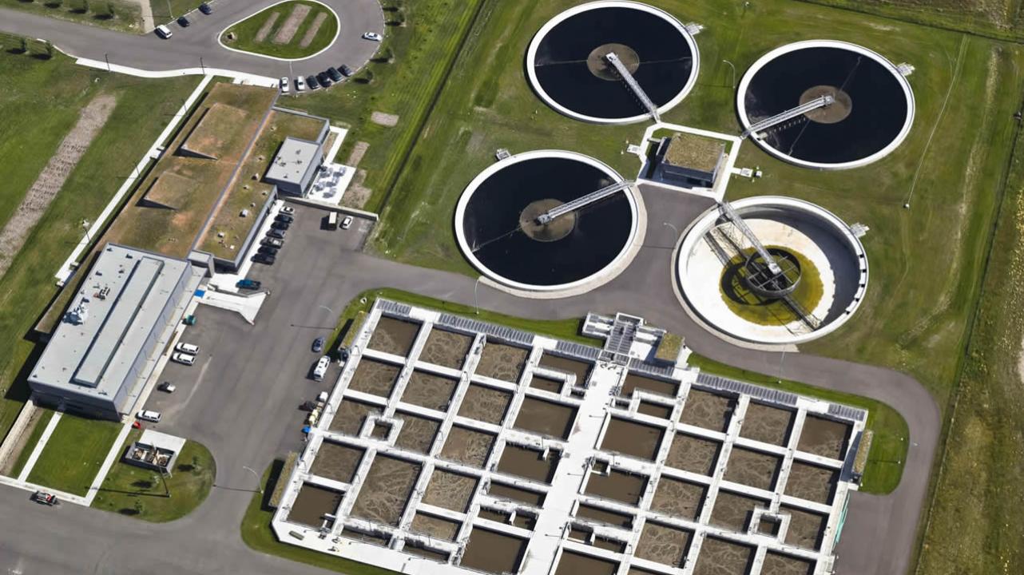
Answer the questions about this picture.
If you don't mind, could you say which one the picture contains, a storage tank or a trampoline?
storage tank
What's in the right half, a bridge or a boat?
bridge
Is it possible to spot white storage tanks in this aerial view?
Yes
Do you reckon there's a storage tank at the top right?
Yes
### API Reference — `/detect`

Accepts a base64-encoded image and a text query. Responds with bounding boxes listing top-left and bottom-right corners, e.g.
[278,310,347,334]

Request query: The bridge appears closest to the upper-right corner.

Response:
[741,97,822,137]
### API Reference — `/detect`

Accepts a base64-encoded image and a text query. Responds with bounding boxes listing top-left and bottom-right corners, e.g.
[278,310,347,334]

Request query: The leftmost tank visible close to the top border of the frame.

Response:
[527,2,704,125]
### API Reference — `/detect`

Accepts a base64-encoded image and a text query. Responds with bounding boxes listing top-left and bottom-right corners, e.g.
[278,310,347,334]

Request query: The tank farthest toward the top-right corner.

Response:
[736,40,915,170]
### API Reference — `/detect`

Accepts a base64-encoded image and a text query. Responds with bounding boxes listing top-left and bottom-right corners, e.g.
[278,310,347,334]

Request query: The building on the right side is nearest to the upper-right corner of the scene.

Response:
[664,133,725,187]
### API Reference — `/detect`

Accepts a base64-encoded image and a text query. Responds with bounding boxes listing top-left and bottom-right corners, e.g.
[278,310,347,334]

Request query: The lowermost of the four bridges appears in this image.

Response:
[716,198,773,263]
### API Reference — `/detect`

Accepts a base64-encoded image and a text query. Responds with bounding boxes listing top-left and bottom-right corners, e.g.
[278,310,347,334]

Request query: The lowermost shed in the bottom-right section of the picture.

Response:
[853,434,872,480]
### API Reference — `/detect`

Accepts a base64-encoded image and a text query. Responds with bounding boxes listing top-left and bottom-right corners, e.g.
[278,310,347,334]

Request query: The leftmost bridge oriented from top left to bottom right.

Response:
[611,58,661,124]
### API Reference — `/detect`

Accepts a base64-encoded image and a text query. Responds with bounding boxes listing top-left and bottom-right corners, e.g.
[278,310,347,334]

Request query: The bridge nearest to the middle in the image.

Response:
[551,176,639,219]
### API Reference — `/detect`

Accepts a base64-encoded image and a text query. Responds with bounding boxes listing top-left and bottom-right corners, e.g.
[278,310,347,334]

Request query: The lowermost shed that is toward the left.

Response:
[269,452,302,511]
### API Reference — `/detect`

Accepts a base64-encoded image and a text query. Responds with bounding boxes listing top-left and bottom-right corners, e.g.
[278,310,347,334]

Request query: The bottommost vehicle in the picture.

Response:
[37,490,60,506]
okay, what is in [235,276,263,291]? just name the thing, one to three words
vehicle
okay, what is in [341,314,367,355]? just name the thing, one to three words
shed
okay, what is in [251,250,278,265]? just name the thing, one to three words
vehicle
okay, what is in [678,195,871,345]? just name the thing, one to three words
storage tank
